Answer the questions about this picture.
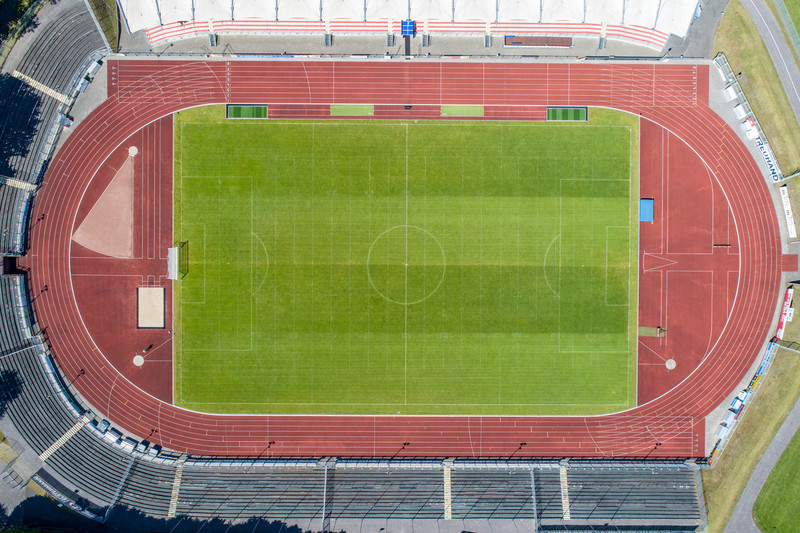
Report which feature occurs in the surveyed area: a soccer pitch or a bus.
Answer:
soccer pitch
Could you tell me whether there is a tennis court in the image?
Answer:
No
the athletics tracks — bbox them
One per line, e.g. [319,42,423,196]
[26,59,782,457]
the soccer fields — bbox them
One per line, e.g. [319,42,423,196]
[173,103,641,416]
